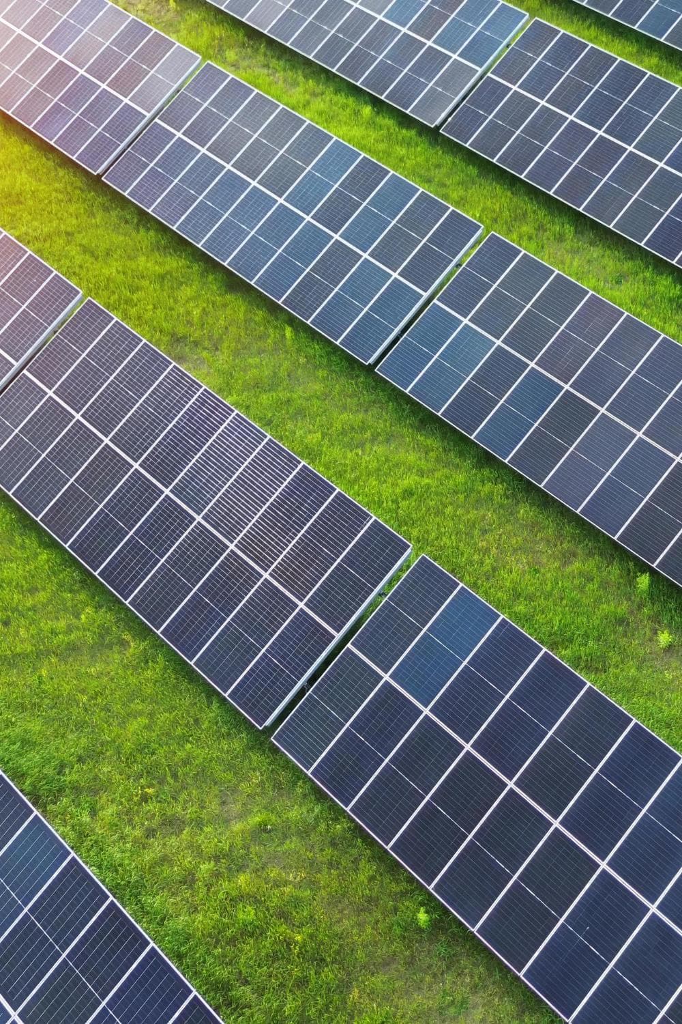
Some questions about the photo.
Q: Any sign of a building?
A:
No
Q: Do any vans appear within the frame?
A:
No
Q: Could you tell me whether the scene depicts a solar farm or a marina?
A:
solar farm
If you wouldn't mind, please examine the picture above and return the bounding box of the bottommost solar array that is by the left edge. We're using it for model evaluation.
[0,773,225,1024]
